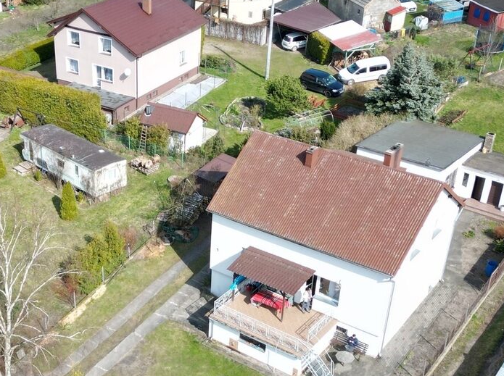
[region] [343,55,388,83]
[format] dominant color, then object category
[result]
white vehicle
